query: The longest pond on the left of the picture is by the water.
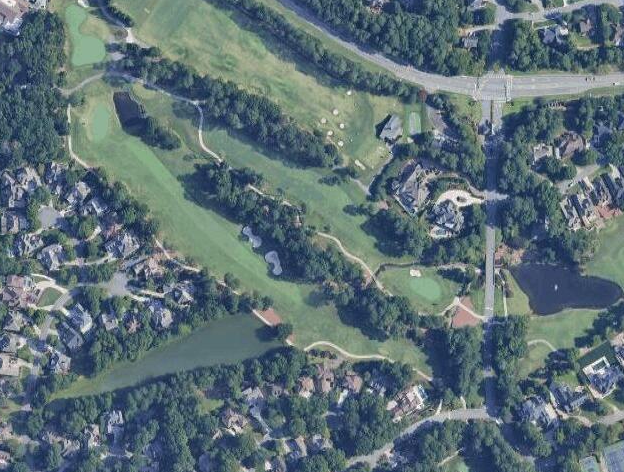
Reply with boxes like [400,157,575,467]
[67,313,288,399]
